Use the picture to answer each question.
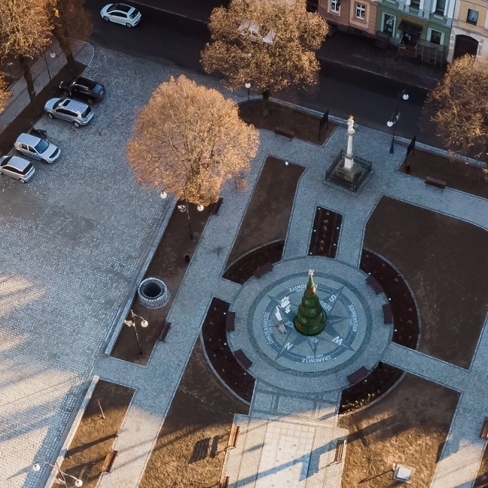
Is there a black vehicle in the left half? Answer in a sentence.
Yes, in the left half there is a black vehicle.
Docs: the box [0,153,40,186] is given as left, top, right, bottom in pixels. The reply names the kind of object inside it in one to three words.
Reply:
car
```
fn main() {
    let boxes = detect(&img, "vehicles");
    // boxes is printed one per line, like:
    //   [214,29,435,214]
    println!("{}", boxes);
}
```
[9,128,62,165]
[40,95,99,129]
[0,153,40,186]
[96,1,145,31]
[55,73,111,106]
